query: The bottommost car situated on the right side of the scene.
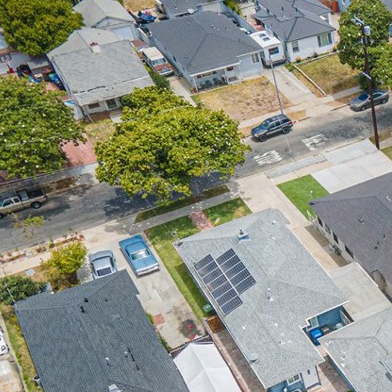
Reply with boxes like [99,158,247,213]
[247,112,295,142]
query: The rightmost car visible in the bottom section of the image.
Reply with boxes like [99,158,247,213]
[120,232,160,275]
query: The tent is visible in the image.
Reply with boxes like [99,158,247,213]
[173,344,241,392]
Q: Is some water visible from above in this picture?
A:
No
